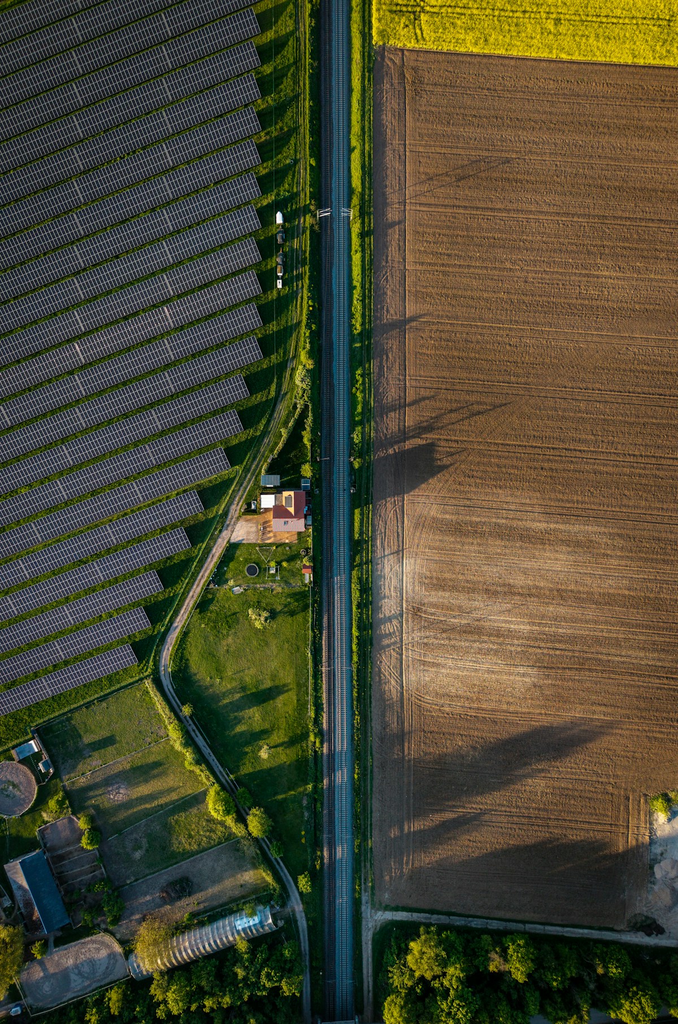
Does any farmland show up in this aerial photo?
Yes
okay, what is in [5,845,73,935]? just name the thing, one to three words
barn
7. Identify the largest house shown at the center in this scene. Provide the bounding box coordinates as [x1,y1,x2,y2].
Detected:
[272,491,306,532]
